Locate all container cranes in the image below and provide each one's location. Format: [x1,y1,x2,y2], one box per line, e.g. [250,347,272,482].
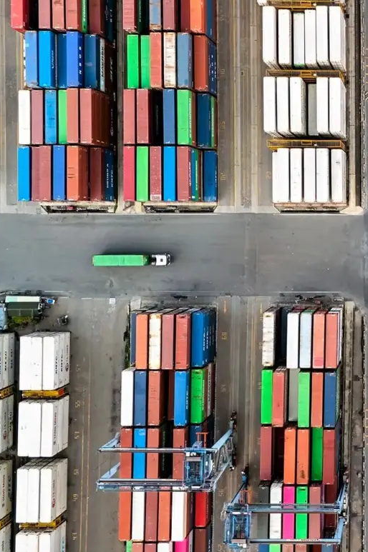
[101,411,238,492]
[222,461,353,548]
